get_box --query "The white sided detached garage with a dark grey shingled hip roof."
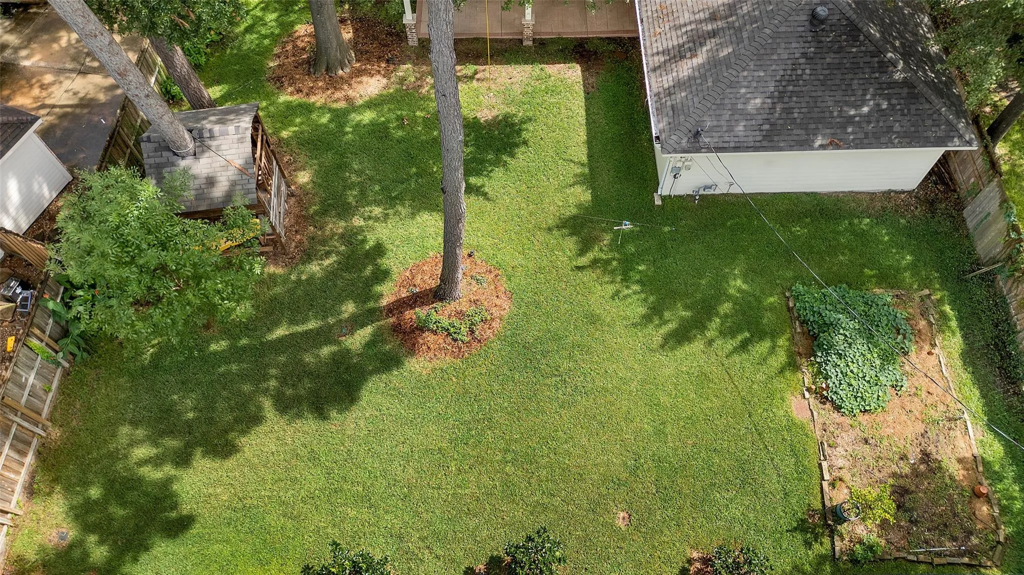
[631,0,983,198]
